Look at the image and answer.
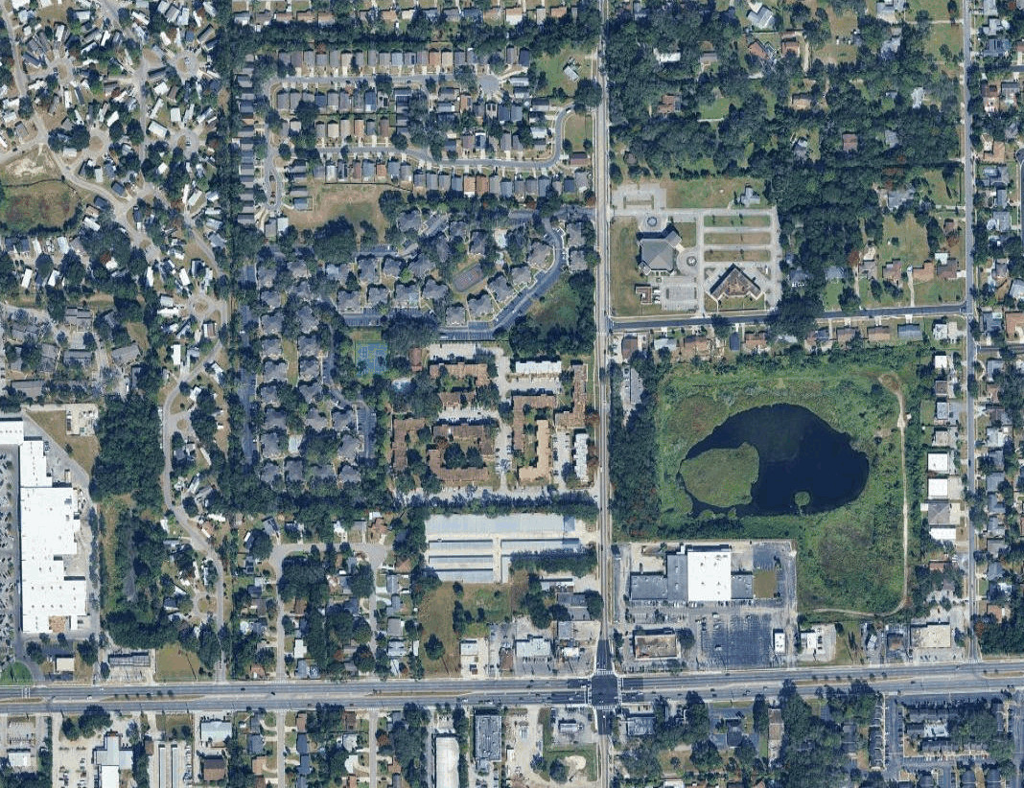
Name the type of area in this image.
residential area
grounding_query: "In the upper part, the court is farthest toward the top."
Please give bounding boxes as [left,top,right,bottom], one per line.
[451,263,485,293]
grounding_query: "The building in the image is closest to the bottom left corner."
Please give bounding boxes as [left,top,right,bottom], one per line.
[8,753,31,767]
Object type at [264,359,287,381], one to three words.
building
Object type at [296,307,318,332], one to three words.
building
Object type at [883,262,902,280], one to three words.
house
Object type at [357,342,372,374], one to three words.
tennis court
